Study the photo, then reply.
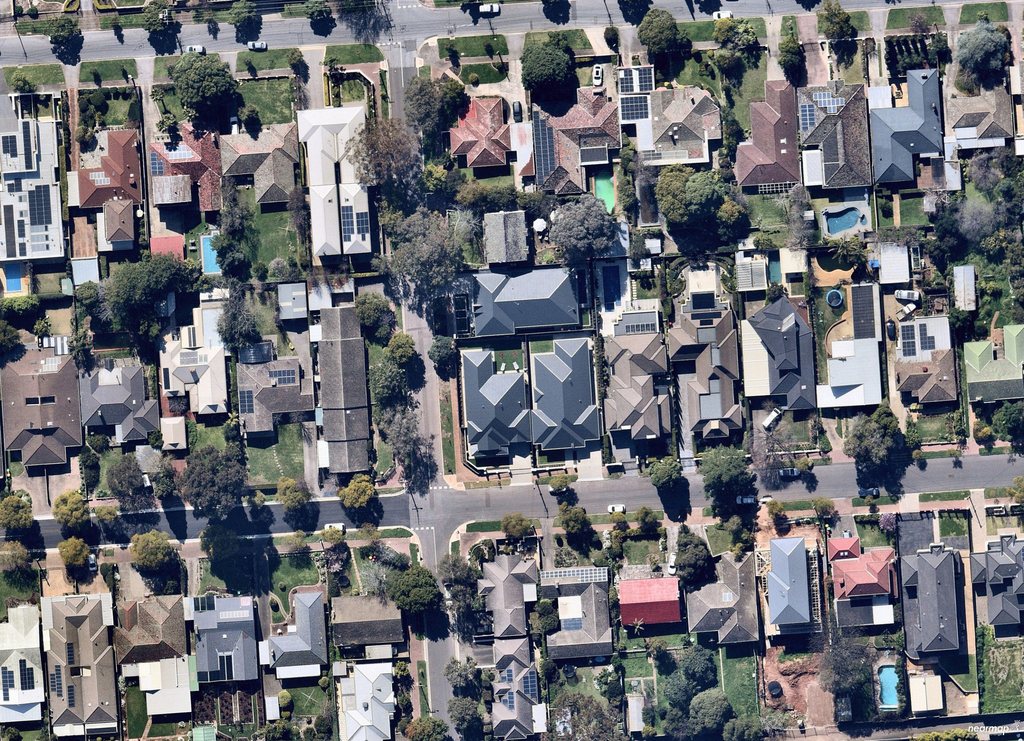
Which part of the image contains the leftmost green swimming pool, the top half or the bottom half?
top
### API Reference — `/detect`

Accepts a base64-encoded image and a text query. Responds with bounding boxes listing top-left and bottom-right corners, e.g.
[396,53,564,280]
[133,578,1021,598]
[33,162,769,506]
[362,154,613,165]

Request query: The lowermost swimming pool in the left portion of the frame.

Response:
[92,330,133,352]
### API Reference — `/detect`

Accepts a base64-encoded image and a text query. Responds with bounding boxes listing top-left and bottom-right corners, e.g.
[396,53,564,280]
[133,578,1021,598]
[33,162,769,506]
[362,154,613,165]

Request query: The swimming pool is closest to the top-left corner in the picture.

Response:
[3,261,23,293]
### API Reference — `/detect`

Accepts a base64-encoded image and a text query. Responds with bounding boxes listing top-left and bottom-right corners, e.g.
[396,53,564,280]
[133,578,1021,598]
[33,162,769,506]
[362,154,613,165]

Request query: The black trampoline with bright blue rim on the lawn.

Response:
[827,290,843,306]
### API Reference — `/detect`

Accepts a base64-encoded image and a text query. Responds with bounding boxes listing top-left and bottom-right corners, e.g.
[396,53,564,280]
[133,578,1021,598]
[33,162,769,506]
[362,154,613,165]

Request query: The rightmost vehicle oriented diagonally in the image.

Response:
[896,302,917,321]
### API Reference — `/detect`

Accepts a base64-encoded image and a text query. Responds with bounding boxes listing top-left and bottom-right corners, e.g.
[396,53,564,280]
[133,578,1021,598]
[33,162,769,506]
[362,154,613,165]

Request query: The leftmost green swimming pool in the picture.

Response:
[593,170,617,215]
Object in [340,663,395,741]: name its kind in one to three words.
house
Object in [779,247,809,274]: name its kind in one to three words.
building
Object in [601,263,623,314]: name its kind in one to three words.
swimming pool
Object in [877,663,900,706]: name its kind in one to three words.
swimming pool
